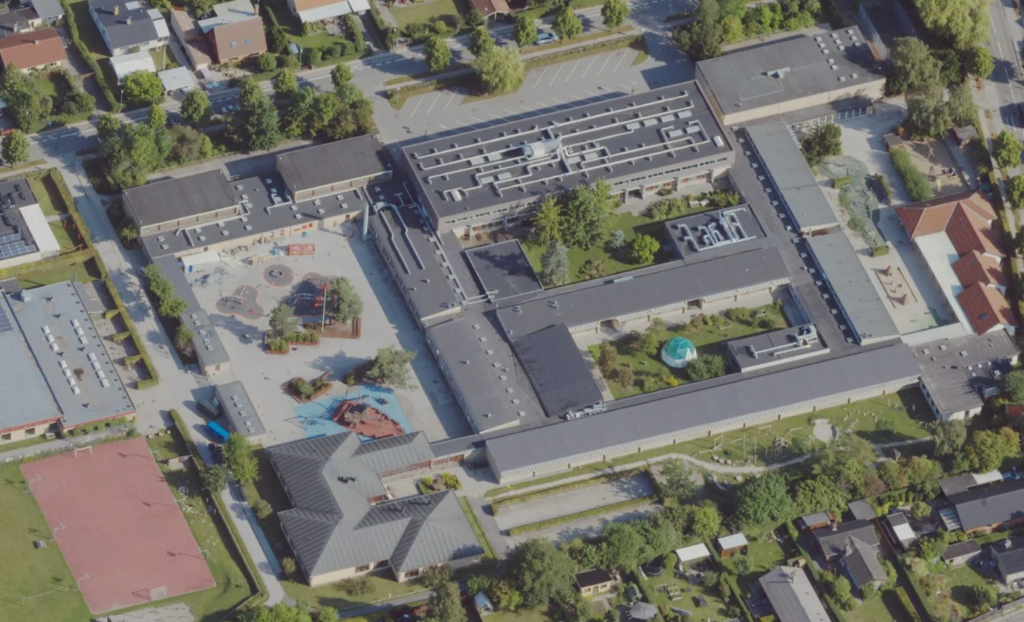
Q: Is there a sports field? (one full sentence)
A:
Yes, the picture does show a sports field.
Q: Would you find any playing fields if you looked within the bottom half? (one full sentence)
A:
Yes, there is a playing field within the bottom half.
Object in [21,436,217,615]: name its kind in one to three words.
sports field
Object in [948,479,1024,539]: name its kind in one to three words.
house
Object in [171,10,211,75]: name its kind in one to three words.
building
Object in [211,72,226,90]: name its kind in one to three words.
car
